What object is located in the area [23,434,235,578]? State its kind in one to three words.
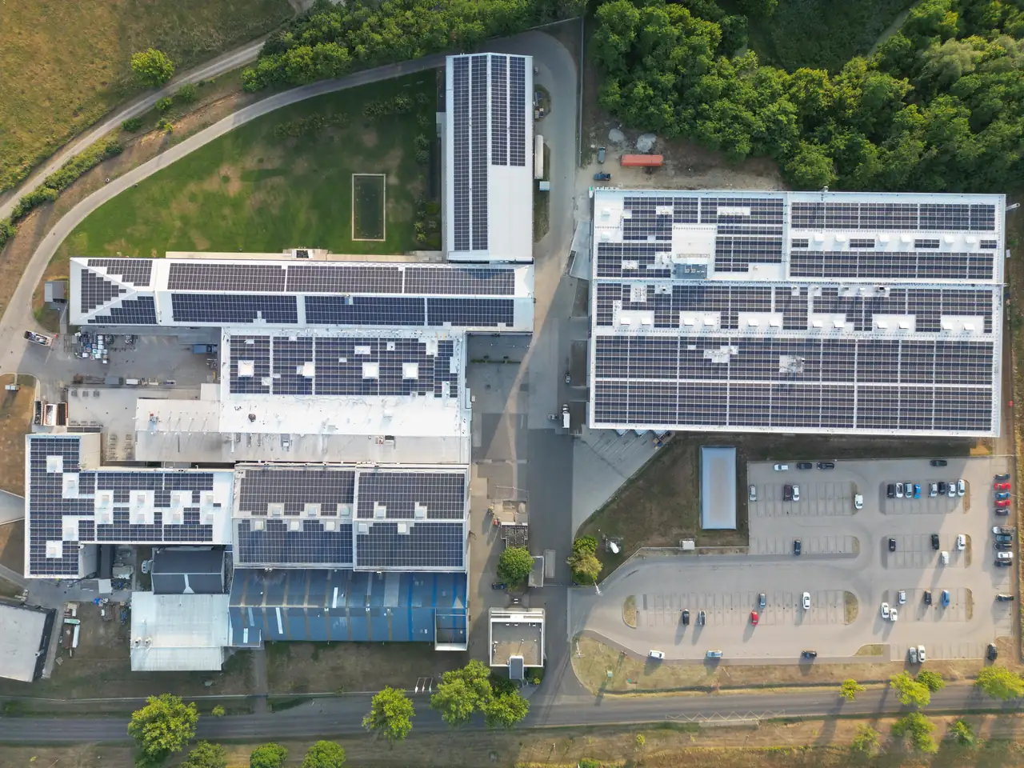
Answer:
building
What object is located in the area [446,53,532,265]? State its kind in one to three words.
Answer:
building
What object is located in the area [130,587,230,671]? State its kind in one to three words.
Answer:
shed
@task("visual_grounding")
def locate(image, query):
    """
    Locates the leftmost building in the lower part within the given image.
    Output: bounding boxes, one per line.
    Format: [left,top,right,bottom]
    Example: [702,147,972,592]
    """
[0,596,56,681]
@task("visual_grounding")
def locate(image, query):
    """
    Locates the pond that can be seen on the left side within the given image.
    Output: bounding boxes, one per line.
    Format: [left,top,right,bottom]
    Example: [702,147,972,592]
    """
[352,173,386,241]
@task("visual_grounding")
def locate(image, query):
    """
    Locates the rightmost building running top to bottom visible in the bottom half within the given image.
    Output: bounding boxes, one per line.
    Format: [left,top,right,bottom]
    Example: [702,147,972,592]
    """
[698,447,736,530]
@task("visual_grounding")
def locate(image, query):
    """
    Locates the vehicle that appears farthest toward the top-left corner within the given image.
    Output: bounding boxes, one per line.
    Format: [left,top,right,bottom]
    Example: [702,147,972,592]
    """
[22,330,53,347]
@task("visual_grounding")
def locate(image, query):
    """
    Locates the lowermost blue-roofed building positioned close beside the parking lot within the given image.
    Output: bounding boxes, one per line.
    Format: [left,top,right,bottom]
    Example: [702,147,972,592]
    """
[228,570,470,646]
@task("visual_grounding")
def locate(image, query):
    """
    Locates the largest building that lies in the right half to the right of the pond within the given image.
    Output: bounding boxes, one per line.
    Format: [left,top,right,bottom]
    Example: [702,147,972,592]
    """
[586,188,1007,443]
